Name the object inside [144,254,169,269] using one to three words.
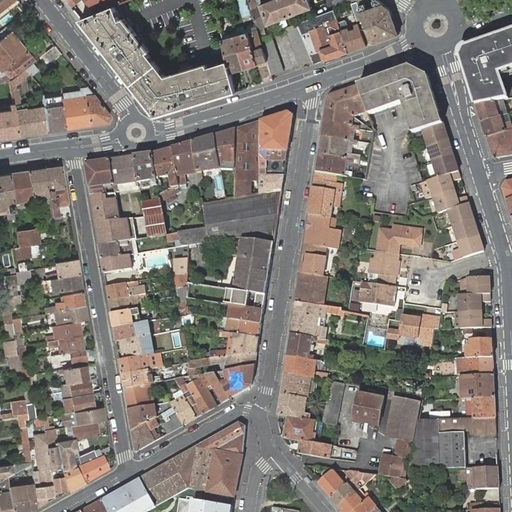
swimming pool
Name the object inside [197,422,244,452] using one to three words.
building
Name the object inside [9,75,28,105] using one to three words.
shed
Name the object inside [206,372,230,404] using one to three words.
house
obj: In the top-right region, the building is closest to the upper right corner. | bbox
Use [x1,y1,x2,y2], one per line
[456,24,512,102]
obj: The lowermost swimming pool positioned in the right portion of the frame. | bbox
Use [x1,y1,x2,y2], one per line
[366,330,387,348]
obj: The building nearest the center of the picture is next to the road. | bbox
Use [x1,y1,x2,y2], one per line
[232,238,273,292]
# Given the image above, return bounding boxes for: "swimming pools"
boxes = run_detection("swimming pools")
[213,174,224,192]
[2,253,11,268]
[238,0,250,18]
[366,330,387,348]
[170,331,182,348]
[0,12,14,27]
[144,254,169,269]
